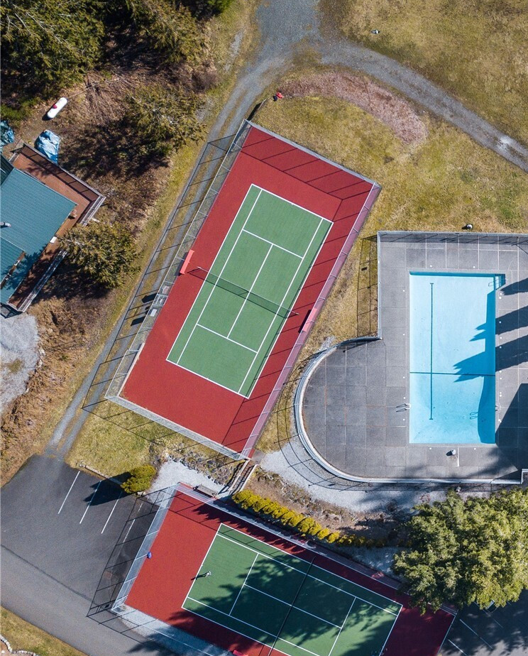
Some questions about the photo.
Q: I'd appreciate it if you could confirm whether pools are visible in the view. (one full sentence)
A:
Yes, the frame does contain a pool.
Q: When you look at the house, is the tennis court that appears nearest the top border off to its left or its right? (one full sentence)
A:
Compared with the house, the tennis court that appears nearest the top border is located further to the right.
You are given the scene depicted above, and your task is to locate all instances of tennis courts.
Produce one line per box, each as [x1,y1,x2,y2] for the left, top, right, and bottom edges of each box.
[125,483,454,656]
[120,127,379,458]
